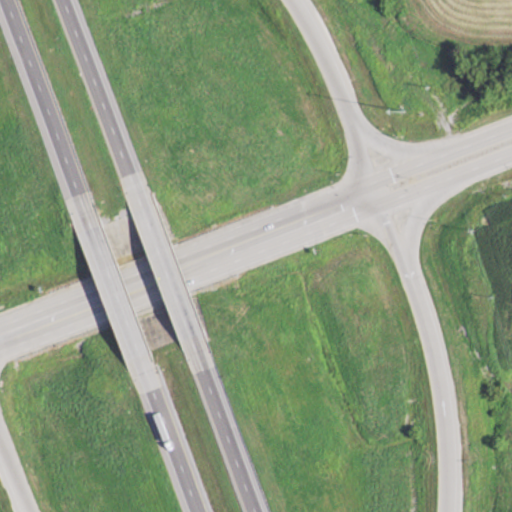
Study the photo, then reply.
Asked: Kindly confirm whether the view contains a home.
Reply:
No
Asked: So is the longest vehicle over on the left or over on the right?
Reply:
left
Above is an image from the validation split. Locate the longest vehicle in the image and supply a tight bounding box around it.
[154,412,174,452]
